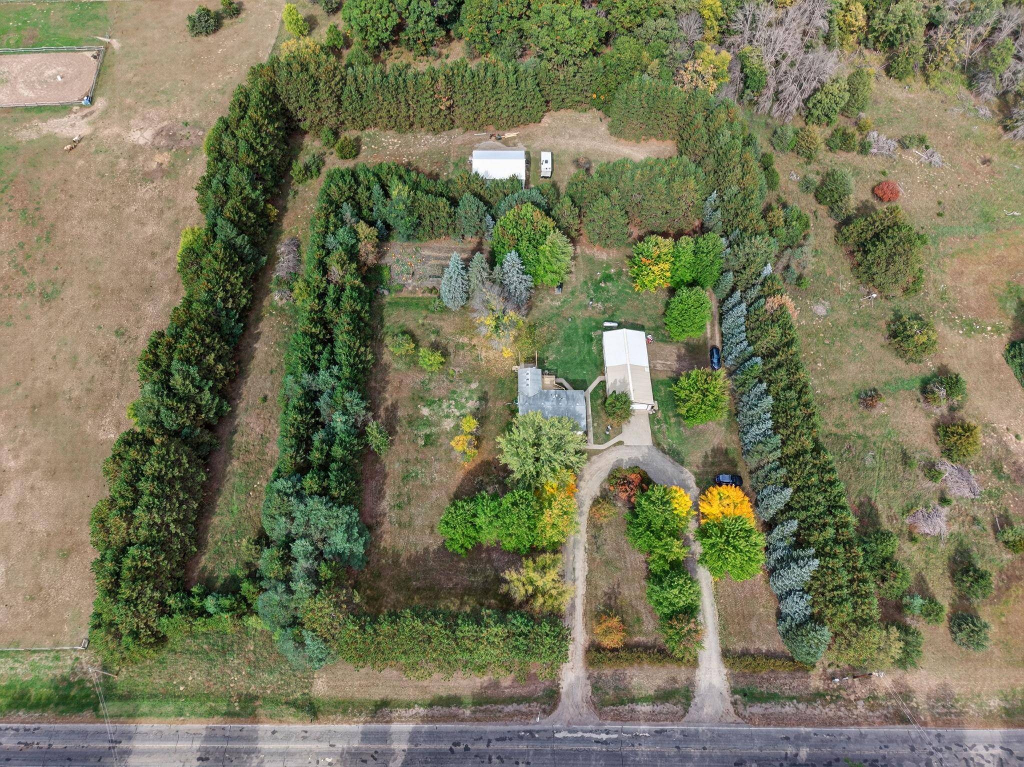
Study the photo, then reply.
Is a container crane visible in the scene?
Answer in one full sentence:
No, there's no container crane here.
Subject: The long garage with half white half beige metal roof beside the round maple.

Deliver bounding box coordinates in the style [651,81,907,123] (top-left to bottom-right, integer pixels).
[602,328,655,410]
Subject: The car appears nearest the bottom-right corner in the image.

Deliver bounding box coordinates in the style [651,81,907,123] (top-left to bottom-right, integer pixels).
[714,475,743,489]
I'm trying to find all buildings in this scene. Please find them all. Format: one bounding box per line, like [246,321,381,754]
[518,366,587,440]
[472,150,525,190]
[602,328,655,410]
